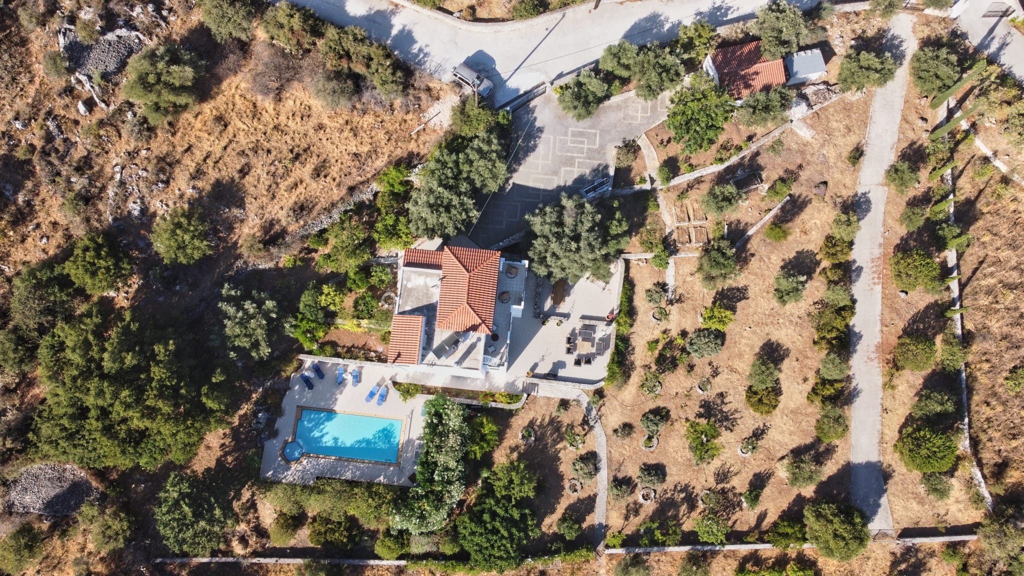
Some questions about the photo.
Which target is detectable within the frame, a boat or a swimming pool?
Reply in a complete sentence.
The one in the frame is a swimming pool.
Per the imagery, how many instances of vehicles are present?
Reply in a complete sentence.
Just 1 vehicle appears in this view.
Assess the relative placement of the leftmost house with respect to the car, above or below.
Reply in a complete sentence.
As seen from overhead, the leftmost house falls below the car in the picture.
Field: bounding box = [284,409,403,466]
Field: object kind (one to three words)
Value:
swimming pool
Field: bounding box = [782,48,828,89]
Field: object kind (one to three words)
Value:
shed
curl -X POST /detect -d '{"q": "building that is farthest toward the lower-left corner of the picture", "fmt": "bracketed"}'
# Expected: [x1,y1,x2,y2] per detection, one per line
[388,244,528,377]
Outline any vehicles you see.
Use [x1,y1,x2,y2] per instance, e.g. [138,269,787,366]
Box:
[450,59,496,97]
